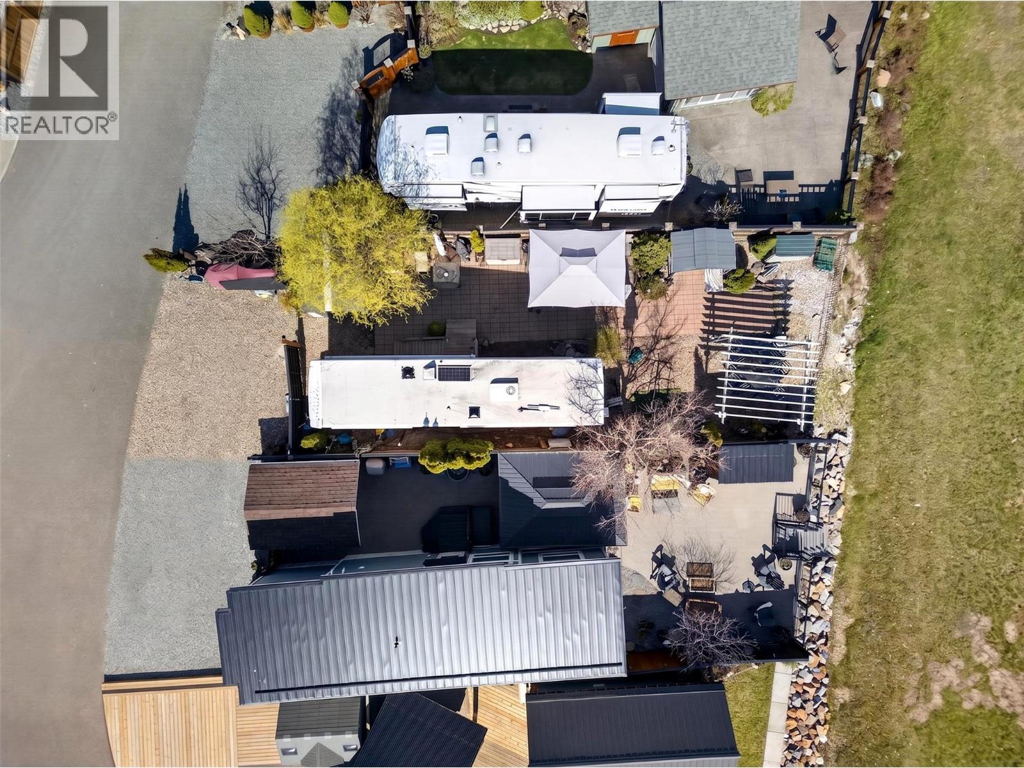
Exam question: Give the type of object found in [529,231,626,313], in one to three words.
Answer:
gazebo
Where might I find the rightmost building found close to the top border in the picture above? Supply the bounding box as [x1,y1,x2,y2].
[648,0,797,115]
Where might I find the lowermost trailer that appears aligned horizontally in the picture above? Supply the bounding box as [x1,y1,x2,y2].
[310,354,604,427]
